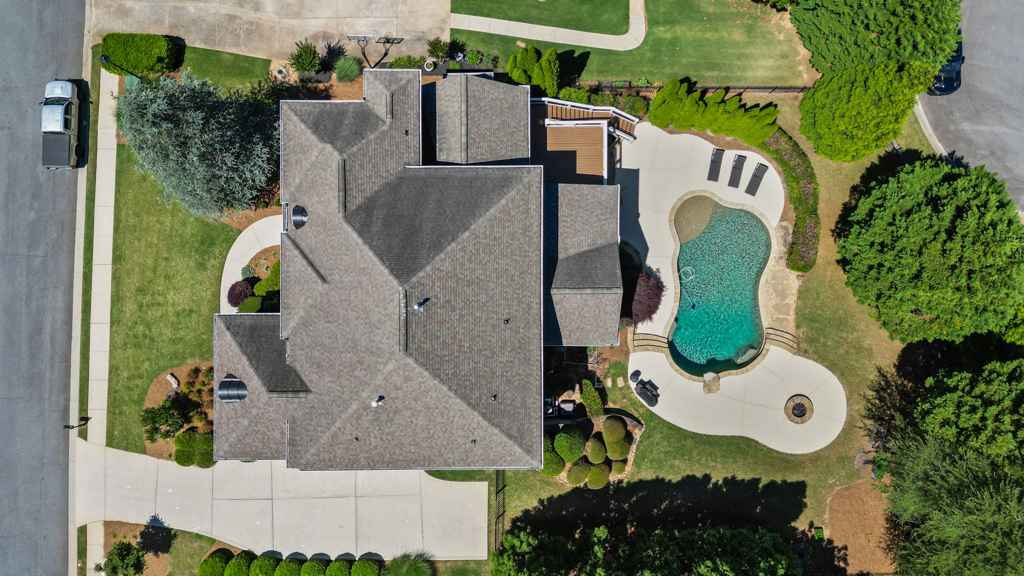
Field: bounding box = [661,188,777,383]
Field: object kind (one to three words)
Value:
swimming pool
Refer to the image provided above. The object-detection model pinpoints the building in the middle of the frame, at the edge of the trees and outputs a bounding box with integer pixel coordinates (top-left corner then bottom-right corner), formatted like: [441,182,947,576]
[212,67,623,471]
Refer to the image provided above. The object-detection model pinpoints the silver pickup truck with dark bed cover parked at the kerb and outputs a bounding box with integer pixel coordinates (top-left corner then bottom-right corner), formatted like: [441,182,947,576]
[37,77,85,170]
